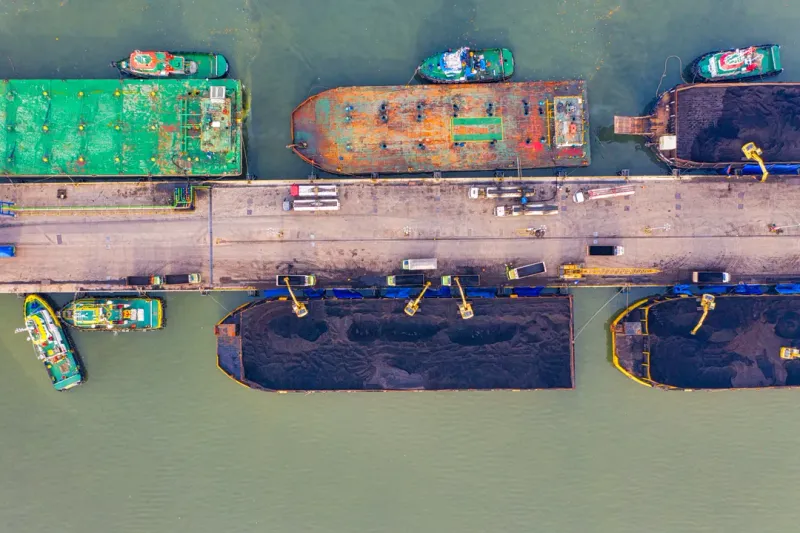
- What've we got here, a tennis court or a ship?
ship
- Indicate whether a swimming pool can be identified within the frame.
No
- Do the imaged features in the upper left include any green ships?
Yes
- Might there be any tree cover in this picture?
No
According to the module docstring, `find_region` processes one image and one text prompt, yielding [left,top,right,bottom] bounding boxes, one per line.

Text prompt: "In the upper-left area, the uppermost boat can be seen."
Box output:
[109,50,232,79]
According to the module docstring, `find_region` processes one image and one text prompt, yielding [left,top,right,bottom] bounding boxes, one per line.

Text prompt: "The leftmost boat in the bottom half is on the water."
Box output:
[12,292,87,390]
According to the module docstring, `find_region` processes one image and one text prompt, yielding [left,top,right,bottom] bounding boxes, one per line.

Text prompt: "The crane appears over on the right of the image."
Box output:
[556,263,662,280]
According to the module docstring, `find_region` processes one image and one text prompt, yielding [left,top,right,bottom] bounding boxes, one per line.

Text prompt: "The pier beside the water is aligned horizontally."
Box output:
[0,173,800,297]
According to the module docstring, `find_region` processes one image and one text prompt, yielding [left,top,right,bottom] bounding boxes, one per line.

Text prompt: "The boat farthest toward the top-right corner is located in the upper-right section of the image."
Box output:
[683,41,786,83]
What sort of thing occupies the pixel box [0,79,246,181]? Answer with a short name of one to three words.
ship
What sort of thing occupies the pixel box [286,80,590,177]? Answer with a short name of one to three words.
ship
